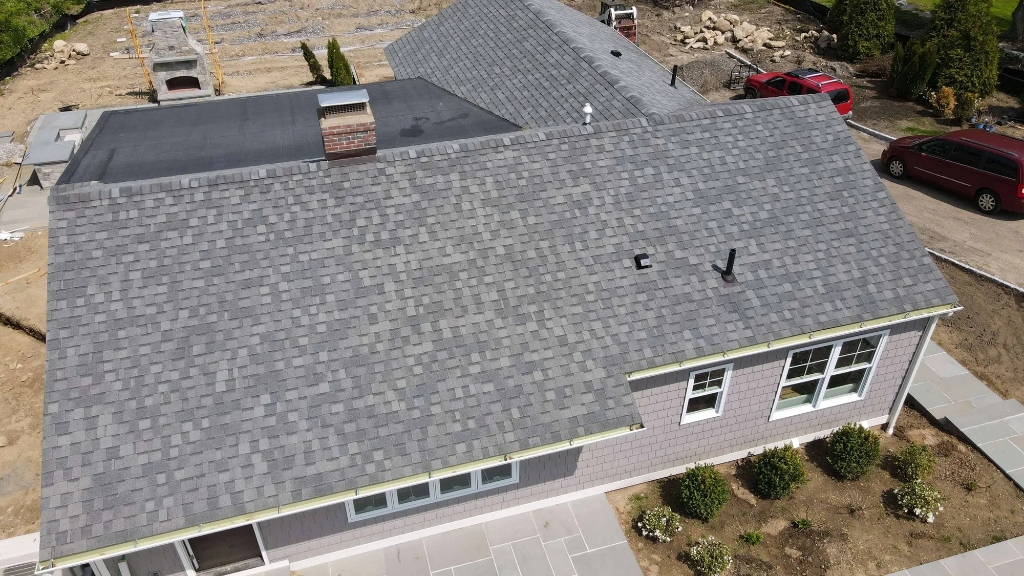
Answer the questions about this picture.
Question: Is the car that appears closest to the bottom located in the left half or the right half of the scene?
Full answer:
It is on the right.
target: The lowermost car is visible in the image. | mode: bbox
[877,132,1024,218]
